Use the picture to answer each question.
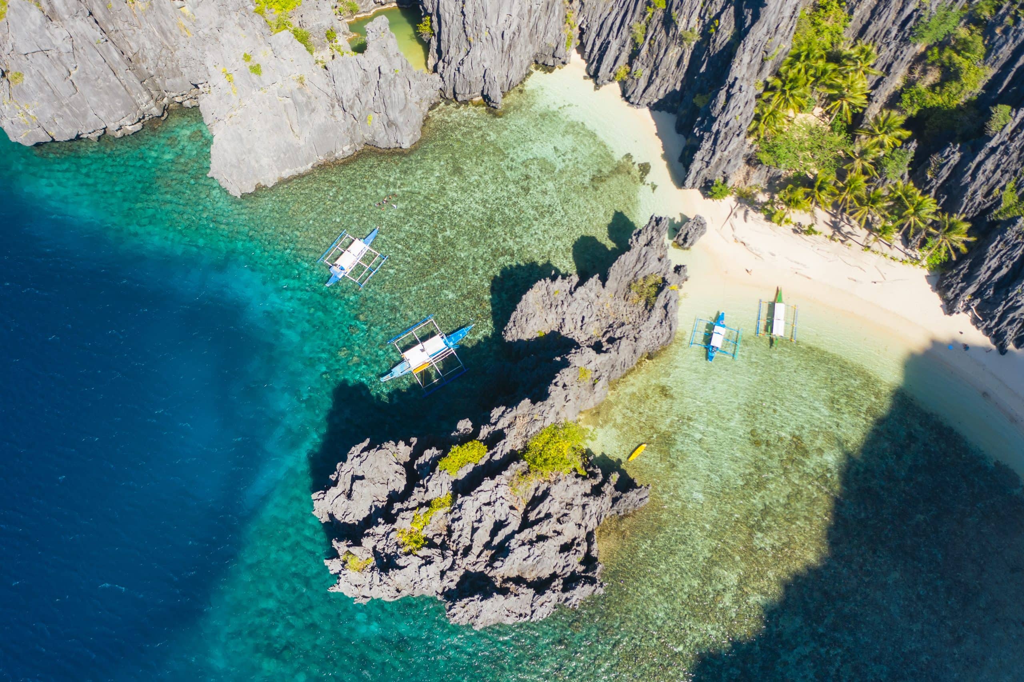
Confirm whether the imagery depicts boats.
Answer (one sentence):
Yes, there is a boat in the image.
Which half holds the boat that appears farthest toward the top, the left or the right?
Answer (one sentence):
The boat that appears farthest toward the top appears in the left half of the scene.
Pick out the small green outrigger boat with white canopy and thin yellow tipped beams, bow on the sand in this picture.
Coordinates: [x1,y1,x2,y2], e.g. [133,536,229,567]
[752,284,800,348]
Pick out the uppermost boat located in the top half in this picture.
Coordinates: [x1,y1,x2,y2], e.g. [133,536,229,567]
[315,223,393,286]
